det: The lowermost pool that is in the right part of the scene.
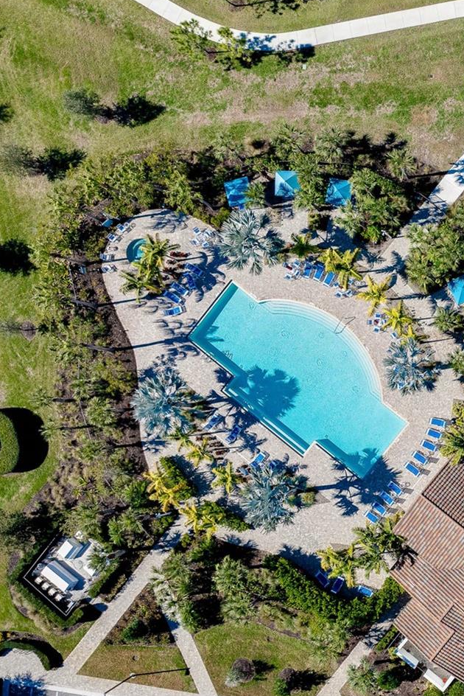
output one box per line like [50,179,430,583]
[185,278,410,481]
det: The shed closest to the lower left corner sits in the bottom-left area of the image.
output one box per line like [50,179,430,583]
[43,558,83,590]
